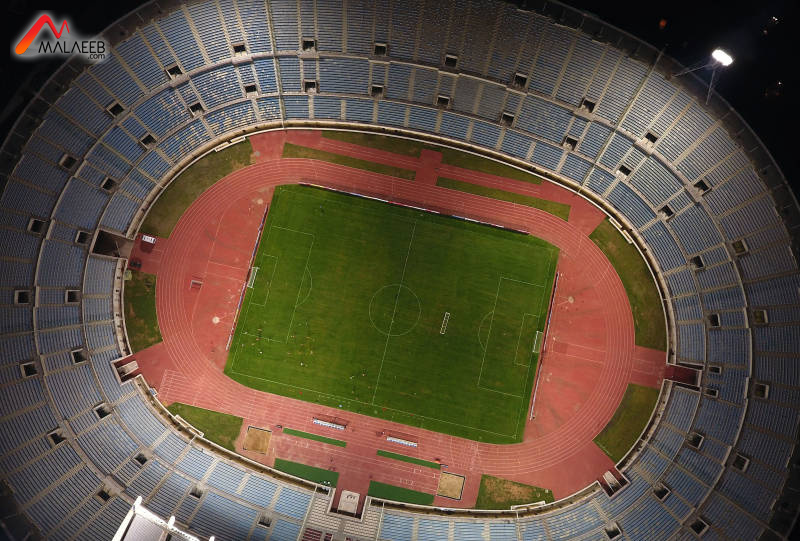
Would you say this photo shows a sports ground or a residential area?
sports ground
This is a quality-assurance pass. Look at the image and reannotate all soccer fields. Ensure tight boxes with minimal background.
[224,185,559,442]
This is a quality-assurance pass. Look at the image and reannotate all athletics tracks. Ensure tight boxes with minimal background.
[157,143,634,482]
